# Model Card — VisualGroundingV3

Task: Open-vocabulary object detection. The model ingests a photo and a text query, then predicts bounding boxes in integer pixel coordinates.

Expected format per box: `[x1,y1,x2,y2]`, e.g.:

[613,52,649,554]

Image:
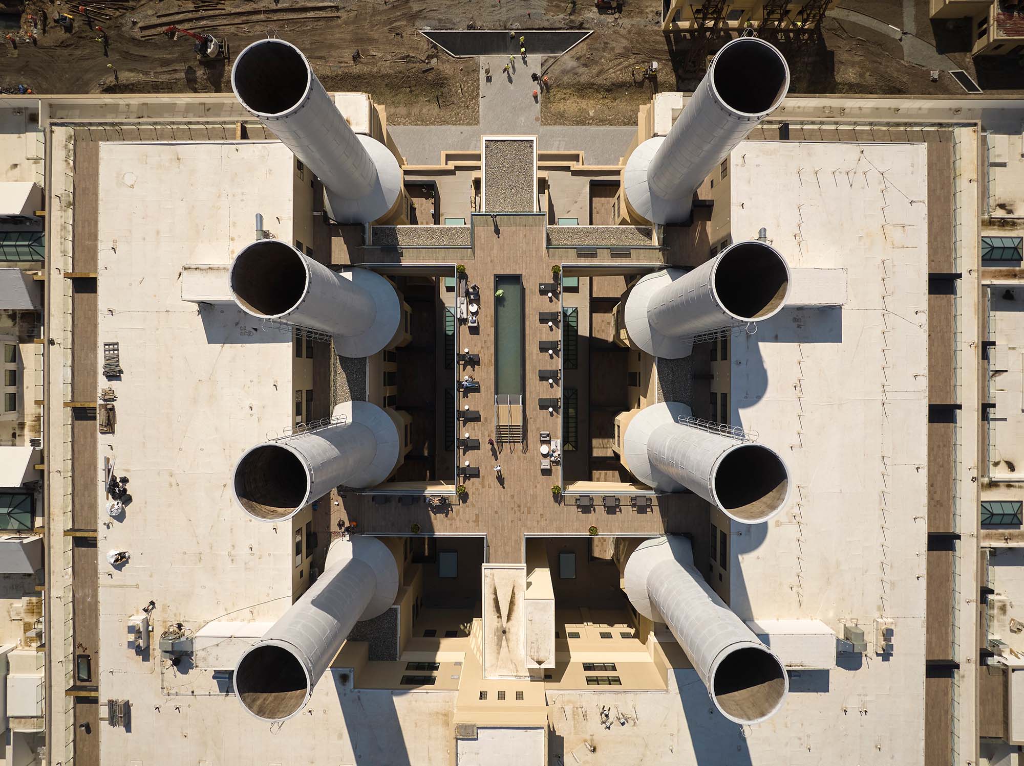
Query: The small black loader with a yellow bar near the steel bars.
[51,13,76,30]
